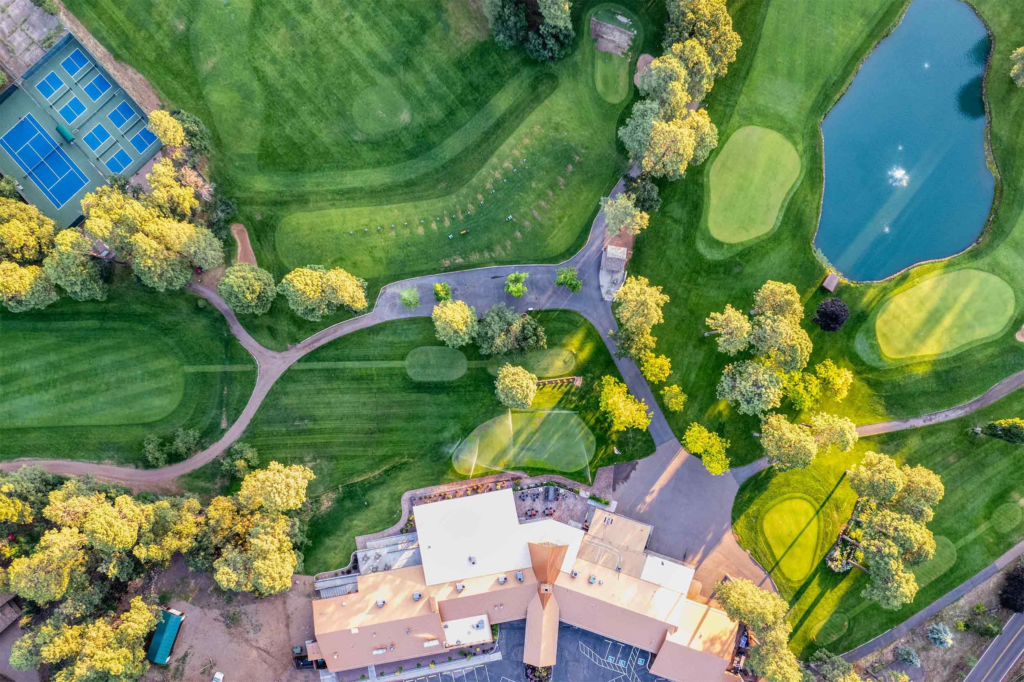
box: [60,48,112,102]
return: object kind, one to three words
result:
sports court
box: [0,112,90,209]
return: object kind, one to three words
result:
tennis court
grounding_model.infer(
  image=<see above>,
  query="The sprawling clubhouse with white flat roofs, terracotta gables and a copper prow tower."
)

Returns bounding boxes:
[307,485,739,682]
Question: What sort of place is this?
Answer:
golf course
